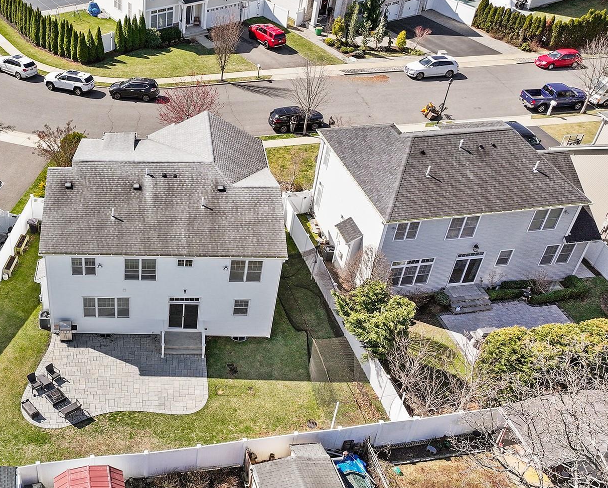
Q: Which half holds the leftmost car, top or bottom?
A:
top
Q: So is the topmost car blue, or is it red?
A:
red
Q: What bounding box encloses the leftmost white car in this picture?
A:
[0,50,41,79]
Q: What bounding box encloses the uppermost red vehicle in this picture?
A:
[247,22,290,49]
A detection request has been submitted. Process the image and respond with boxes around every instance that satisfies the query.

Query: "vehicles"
[103,72,162,100]
[264,101,330,133]
[517,79,596,111]
[0,50,41,79]
[247,22,290,49]
[531,44,589,68]
[583,70,608,105]
[38,65,98,95]
[400,49,464,78]
[500,106,553,152]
